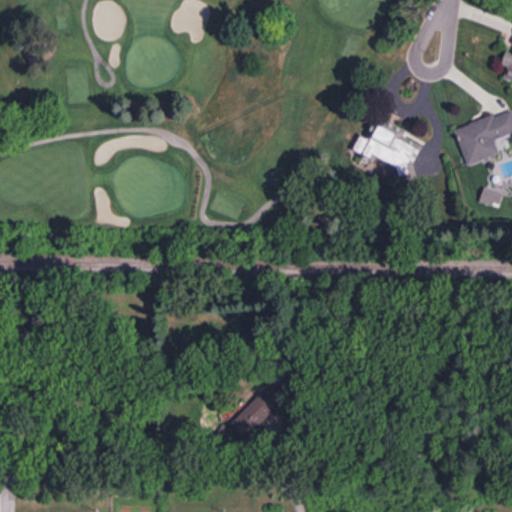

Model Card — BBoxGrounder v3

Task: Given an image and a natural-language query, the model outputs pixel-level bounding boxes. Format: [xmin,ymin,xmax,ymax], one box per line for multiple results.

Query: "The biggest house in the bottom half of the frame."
[234,394,274,434]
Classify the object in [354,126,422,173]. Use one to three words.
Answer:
house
